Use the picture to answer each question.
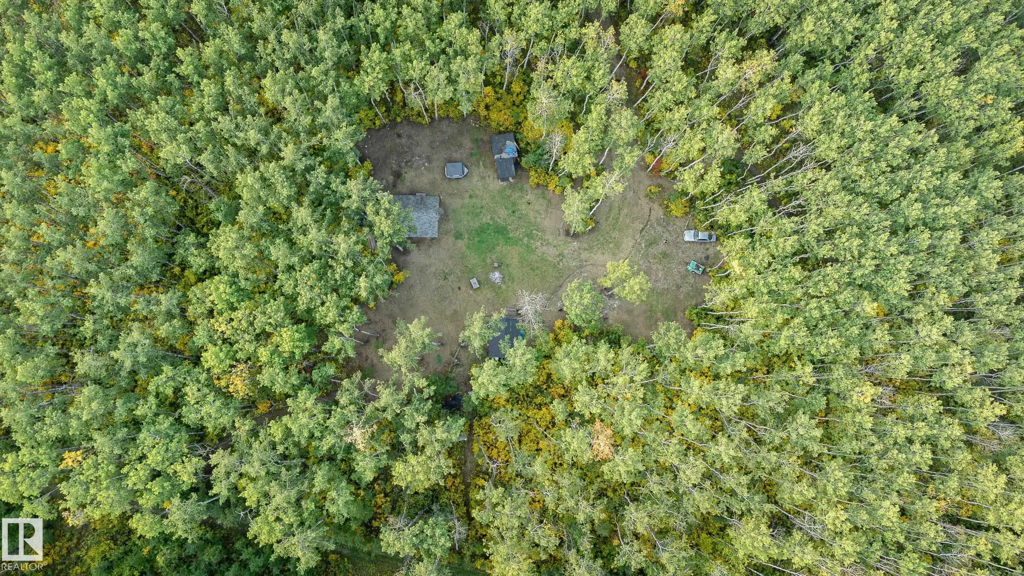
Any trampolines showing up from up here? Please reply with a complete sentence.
No, there appears to be no trampoline in this shot.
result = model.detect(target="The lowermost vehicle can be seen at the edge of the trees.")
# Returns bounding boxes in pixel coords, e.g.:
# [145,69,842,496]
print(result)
[687,260,705,275]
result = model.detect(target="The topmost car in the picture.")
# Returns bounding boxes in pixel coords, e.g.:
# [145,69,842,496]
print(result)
[684,229,717,243]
